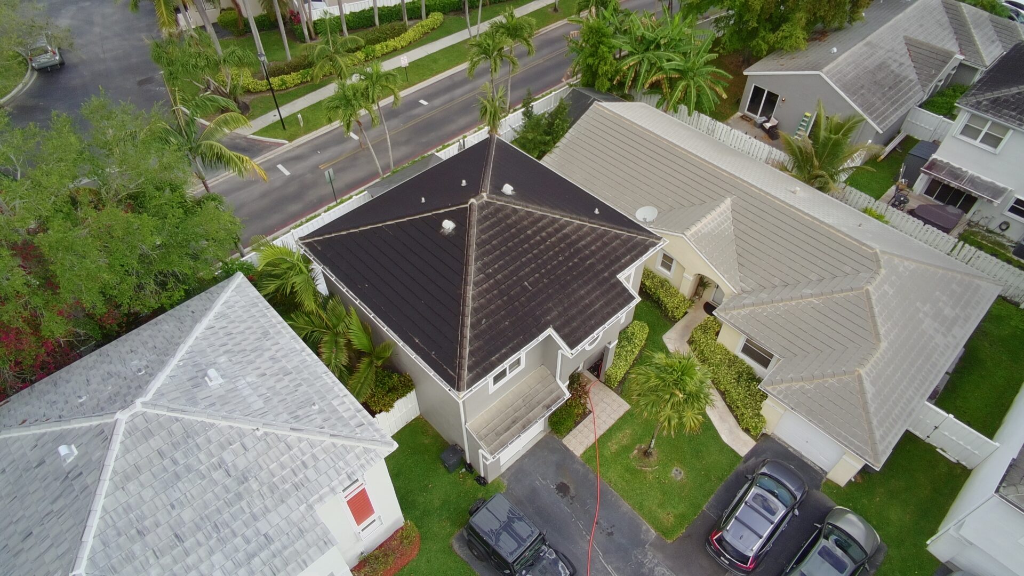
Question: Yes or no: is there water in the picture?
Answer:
No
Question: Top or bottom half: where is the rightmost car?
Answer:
bottom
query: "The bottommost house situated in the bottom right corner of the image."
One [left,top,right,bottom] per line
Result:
[909,402,1024,576]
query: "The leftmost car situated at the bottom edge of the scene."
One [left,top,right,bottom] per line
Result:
[466,492,569,576]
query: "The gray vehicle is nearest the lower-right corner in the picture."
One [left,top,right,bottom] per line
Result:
[788,510,876,576]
